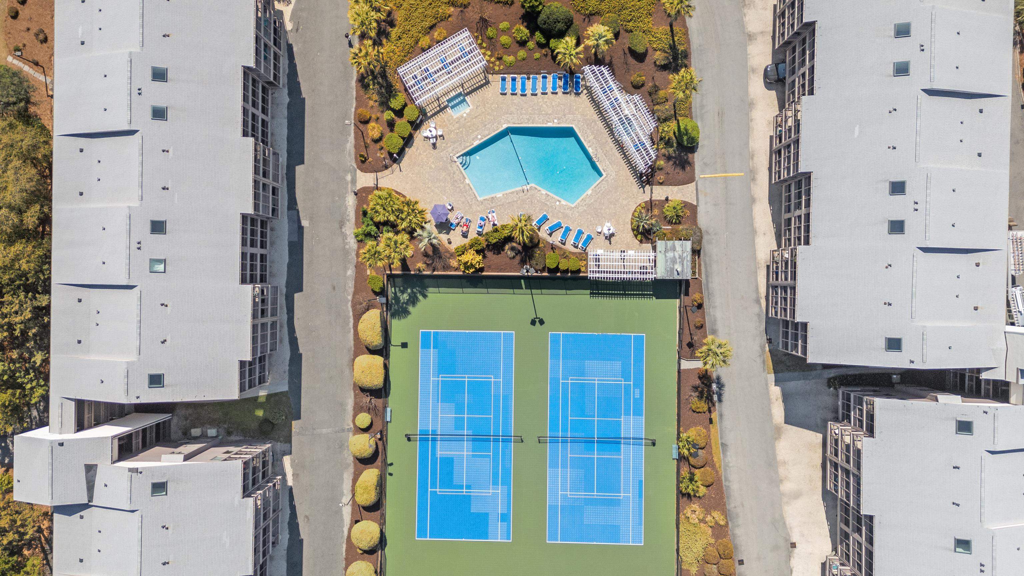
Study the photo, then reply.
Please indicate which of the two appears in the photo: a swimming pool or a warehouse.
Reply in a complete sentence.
Visible in the photo is a swimming pool.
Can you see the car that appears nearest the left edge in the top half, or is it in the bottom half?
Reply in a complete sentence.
The car that appears nearest the left edge is in the top half of the image.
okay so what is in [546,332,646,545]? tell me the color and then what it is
blue tennis court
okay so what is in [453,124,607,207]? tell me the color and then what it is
blue swimming pool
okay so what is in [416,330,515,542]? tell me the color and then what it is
blue tennis court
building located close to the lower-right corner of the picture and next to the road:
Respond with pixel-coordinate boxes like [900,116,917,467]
[826,378,1024,576]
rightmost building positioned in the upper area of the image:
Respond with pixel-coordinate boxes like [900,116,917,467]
[769,0,1024,400]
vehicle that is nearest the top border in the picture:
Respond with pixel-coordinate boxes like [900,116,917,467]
[763,62,785,83]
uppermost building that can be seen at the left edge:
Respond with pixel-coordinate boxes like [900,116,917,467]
[50,0,283,436]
